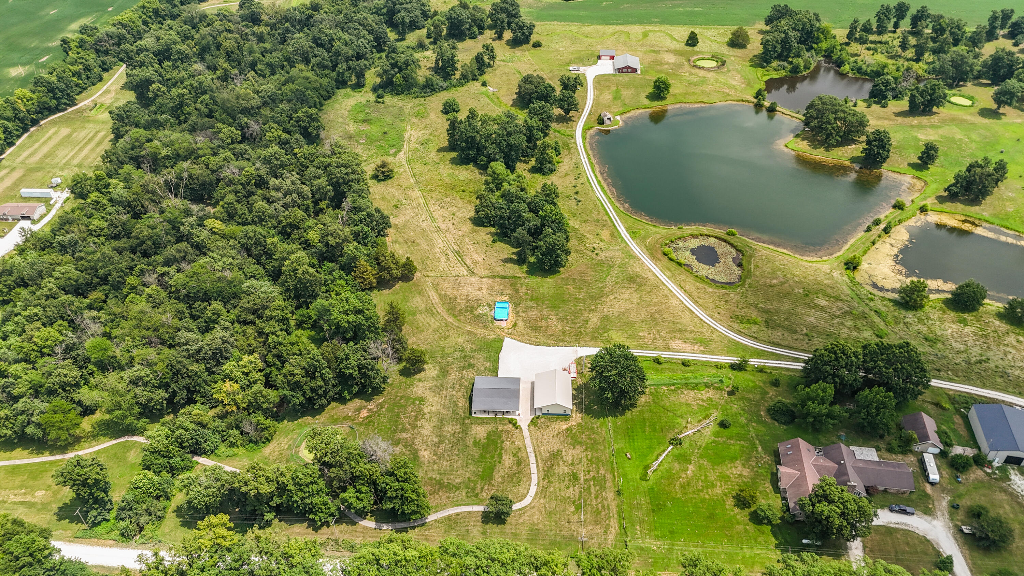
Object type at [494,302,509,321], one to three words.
swimming pool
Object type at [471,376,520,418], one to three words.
house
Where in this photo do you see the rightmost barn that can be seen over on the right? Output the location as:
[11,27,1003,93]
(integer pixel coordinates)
[971,401,1024,465]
